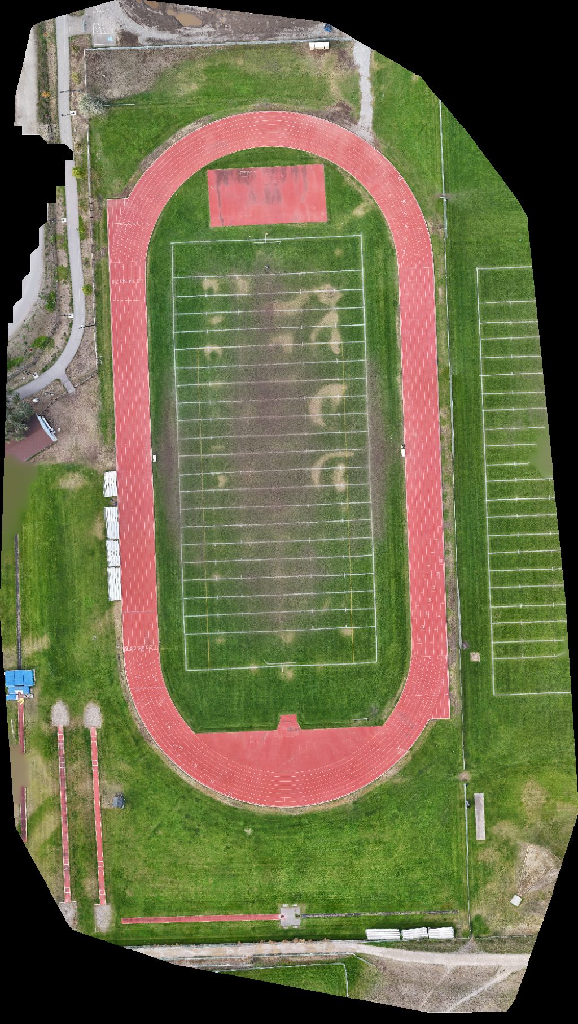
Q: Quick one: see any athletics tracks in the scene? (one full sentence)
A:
Yes, this view includes an athletics track.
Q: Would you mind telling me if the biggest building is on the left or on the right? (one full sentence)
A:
You can find the biggest building on the left side of the picture.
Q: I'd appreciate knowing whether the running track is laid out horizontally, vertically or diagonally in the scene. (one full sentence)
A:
The running track is laid out vertically.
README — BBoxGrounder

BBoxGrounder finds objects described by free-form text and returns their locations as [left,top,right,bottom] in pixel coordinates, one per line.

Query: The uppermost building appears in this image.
[2,412,54,462]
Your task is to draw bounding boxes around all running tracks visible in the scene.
[107,110,450,808]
